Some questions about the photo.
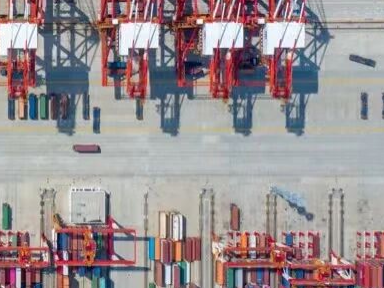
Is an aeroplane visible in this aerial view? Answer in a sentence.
No, the picture doesn't show any aeroplane.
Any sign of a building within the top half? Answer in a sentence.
No, there is no building within the top half.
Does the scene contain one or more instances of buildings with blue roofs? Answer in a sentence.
No, there appears to be no building with a blue roof in this shot.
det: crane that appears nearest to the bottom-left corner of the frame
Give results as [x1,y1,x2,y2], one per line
[0,231,51,266]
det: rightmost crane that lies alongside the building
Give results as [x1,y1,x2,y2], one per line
[52,214,141,267]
